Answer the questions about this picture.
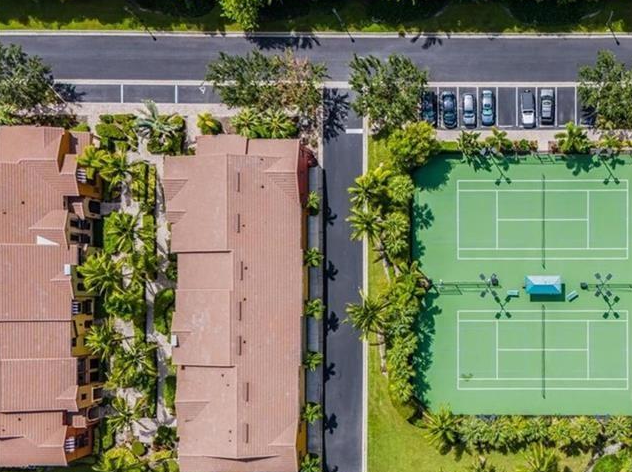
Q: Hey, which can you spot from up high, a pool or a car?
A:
car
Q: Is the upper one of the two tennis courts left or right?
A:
right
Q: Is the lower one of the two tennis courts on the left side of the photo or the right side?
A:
right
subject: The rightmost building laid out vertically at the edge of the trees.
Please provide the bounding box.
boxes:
[162,133,323,472]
